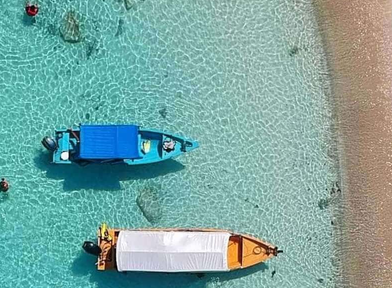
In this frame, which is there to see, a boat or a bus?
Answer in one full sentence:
Visible in the photo is a boat.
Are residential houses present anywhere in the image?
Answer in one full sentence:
No, there is no residential house in the image.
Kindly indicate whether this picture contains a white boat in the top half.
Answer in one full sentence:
No, I can find no white boat in the top half.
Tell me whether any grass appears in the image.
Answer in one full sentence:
No, the scene doesn't show any grass.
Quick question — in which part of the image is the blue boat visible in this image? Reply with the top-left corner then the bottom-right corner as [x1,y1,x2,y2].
[40,126,199,164]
